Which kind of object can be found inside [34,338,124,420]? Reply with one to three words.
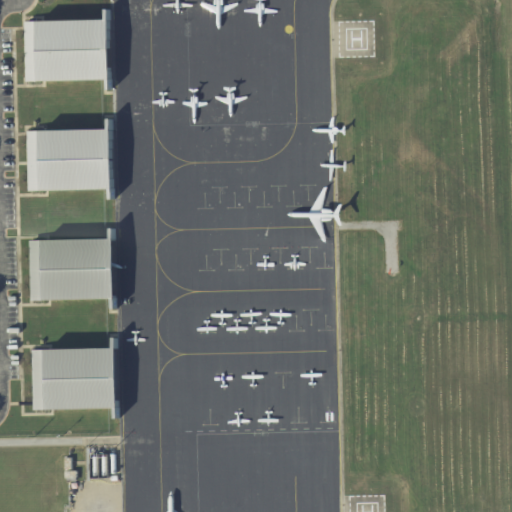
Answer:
hangar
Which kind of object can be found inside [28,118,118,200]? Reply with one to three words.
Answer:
hangar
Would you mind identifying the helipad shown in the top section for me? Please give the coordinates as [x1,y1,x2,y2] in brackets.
[336,20,376,58]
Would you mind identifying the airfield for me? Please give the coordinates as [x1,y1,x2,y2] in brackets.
[112,0,346,512]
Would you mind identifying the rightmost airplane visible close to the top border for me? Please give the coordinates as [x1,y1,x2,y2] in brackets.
[244,0,277,28]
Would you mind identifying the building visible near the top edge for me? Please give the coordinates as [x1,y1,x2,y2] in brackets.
[24,8,115,90]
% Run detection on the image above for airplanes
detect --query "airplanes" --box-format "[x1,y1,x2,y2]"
[256,318,278,334]
[270,310,292,326]
[241,310,262,324]
[242,372,264,387]
[228,411,250,428]
[314,117,344,144]
[197,318,218,334]
[257,256,276,270]
[182,88,208,124]
[199,0,237,30]
[214,372,232,388]
[244,0,277,28]
[284,254,307,270]
[212,310,234,326]
[288,187,342,243]
[215,86,248,116]
[320,150,346,182]
[126,330,146,346]
[258,410,280,427]
[163,0,194,14]
[152,92,175,108]
[227,318,248,334]
[301,370,323,386]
